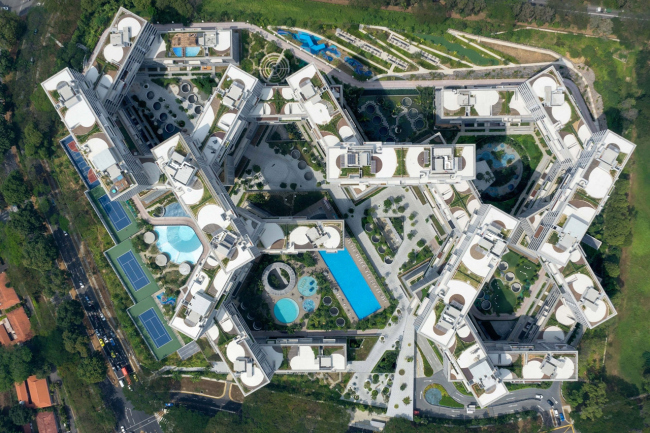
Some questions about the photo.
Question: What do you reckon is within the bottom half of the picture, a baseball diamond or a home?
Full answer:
What appears within the bottom half of the picture is a home.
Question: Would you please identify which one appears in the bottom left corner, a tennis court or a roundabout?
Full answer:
It is a tennis court that can be seen in the bottom left corner.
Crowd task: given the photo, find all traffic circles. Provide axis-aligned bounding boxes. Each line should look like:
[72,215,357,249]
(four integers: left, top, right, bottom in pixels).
[423,383,467,408]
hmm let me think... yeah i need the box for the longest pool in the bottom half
[312,238,391,326]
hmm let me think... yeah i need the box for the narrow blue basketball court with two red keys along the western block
[58,135,100,190]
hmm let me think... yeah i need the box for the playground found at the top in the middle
[277,28,373,81]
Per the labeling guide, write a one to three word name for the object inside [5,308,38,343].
house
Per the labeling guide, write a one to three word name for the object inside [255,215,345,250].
building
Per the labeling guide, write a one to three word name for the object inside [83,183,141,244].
tennis court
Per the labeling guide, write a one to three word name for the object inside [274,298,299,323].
swimming pool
